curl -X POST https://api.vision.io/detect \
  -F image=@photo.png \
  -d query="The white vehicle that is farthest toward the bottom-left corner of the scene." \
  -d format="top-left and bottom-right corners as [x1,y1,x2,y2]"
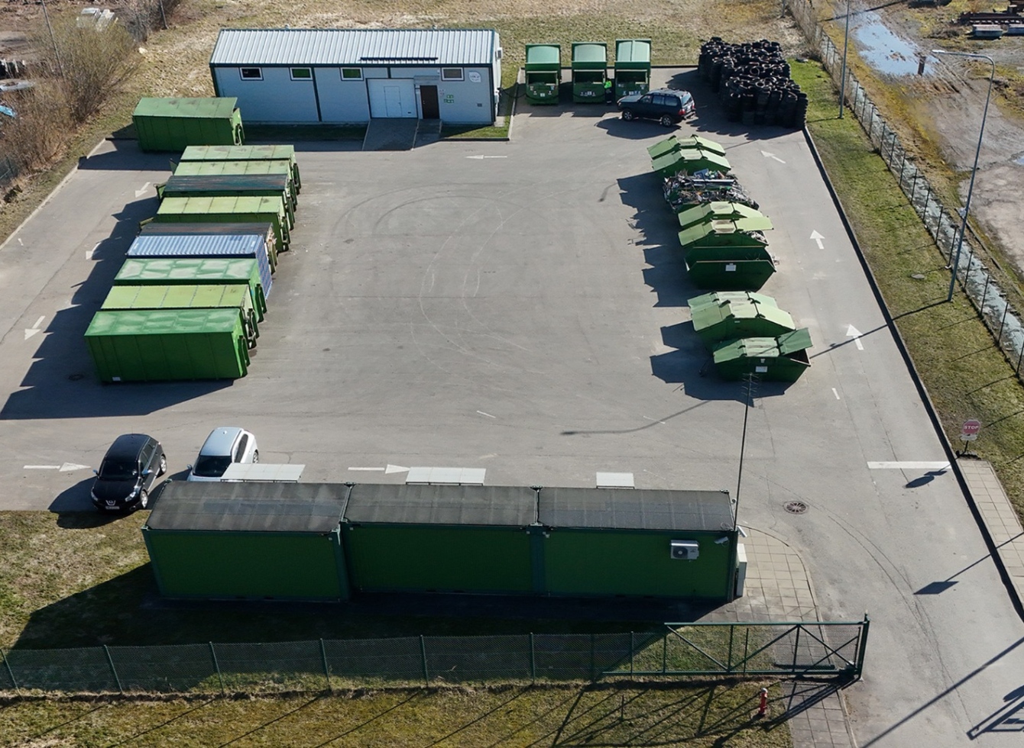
[184,424,254,483]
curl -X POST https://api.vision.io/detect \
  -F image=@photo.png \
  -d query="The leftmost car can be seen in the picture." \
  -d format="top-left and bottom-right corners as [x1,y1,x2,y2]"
[89,427,167,514]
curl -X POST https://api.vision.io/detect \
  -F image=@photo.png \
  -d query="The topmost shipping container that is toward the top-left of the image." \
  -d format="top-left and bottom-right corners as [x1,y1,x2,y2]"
[134,98,247,149]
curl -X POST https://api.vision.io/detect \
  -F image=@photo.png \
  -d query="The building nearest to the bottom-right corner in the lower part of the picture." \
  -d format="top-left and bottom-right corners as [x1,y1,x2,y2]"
[537,472,736,599]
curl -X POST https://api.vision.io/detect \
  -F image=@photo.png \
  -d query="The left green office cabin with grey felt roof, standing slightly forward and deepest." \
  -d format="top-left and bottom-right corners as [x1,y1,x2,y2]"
[139,467,354,603]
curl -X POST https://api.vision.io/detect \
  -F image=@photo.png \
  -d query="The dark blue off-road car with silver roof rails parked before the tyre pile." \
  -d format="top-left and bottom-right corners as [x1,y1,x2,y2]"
[616,87,694,125]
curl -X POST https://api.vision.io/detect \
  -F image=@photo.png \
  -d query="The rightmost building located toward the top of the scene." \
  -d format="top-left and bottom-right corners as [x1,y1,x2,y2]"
[208,24,504,122]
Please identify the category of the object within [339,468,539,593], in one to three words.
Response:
building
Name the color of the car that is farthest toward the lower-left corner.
black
